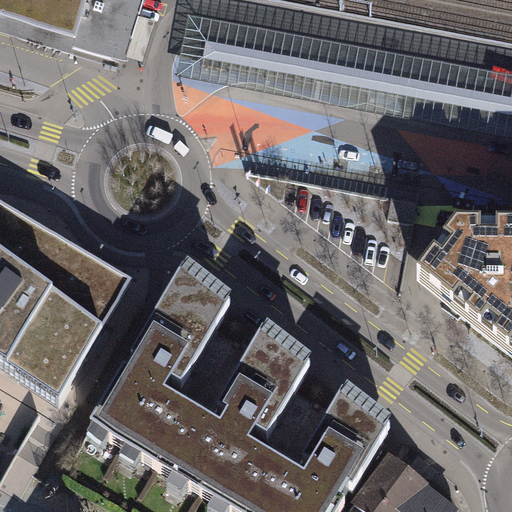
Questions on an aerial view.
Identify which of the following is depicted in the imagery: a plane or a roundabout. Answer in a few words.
roundabout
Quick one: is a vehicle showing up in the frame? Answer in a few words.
Yes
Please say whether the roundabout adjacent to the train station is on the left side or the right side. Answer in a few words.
left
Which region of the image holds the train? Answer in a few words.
top right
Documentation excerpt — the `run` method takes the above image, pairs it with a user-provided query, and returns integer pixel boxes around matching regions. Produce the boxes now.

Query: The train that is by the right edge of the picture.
[490,66,512,88]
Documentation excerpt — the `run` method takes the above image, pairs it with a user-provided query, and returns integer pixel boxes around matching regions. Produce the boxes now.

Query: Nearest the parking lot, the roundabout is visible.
[76,114,210,248]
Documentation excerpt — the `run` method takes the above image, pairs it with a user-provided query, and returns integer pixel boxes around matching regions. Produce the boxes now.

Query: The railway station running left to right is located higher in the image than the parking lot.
[167,0,512,136]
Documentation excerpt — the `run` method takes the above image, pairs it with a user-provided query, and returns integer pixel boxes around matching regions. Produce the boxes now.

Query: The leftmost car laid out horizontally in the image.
[8,115,34,130]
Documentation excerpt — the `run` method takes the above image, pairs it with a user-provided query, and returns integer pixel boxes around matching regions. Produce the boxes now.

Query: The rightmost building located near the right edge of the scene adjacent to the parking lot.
[416,210,512,357]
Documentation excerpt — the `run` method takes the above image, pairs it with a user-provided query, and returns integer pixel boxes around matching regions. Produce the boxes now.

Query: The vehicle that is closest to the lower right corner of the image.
[448,431,469,451]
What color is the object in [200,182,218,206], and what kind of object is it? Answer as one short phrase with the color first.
black car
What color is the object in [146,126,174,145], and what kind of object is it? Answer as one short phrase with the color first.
white vehicle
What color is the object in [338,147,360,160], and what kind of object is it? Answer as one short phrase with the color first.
white vehicle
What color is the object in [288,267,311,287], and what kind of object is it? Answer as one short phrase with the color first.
white car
